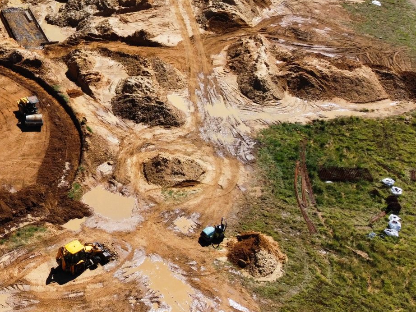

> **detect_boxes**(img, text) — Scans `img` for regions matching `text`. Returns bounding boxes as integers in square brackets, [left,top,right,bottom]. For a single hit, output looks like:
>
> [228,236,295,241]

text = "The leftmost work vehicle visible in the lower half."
[55,235,129,280]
